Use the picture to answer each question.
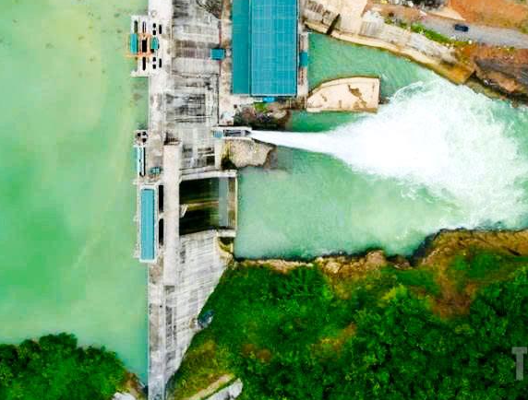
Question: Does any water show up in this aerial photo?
Yes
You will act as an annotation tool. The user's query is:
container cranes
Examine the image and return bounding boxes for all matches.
[124,32,159,56]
